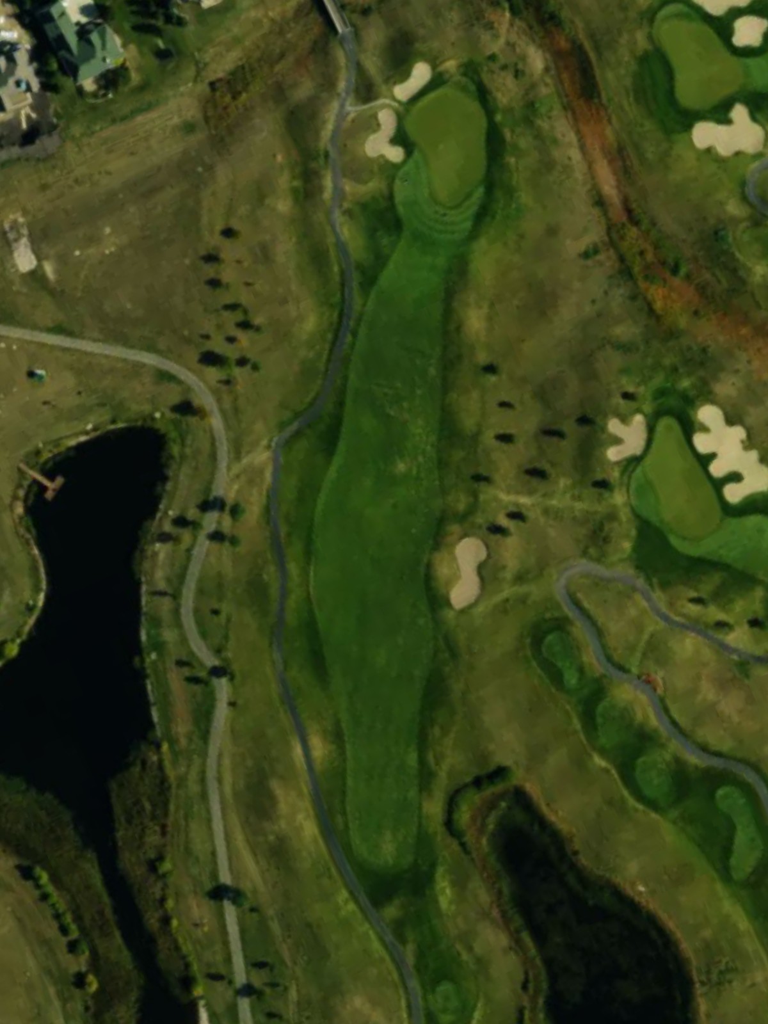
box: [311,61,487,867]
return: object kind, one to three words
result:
golf course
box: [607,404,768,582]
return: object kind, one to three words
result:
golf course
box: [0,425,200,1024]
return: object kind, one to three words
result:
pond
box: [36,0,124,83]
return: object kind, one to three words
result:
house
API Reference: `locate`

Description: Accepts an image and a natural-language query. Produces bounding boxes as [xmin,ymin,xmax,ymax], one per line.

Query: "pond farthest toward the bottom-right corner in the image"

[493,784,701,1024]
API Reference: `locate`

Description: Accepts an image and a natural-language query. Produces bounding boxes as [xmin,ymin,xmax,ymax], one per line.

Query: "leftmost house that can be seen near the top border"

[0,43,48,121]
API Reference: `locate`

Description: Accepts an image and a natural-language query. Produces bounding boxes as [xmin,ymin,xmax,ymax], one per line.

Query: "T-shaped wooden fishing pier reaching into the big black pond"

[18,462,66,502]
